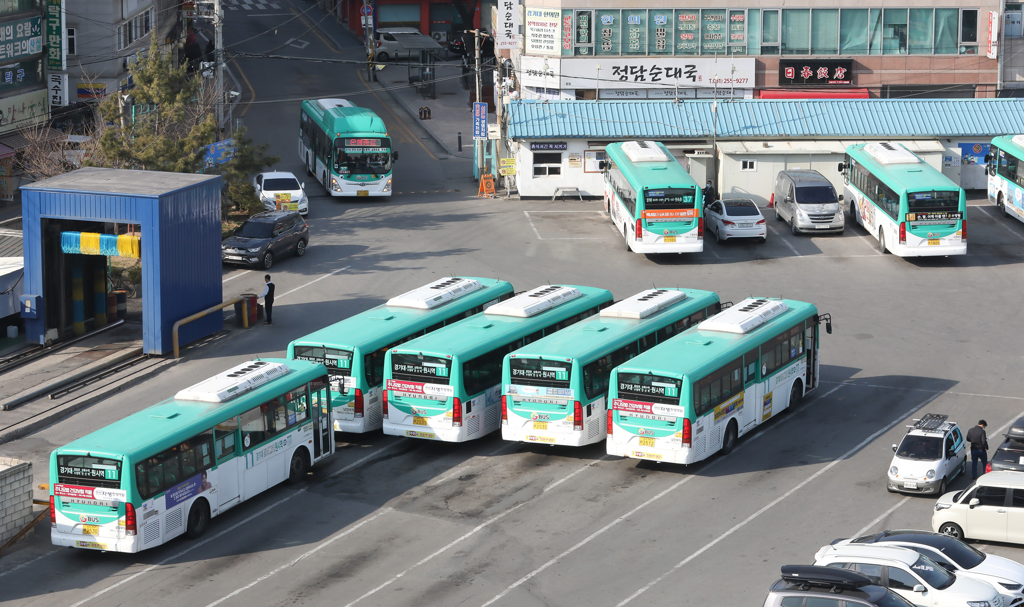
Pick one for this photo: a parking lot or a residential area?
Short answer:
parking lot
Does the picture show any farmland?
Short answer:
No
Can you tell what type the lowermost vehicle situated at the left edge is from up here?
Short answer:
bus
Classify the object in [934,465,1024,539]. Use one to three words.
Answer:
car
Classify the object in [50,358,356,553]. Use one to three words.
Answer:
bus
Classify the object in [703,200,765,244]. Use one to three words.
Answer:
car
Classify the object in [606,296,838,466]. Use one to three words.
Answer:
bus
